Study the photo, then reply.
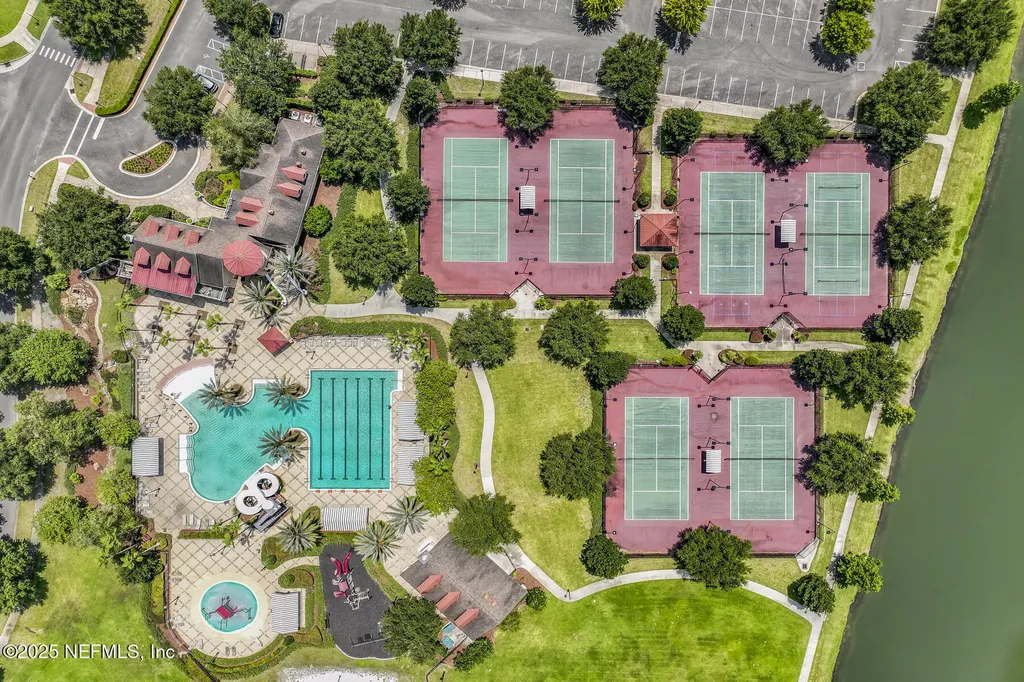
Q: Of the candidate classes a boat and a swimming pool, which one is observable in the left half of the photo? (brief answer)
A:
swimming pool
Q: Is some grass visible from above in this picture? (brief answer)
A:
Yes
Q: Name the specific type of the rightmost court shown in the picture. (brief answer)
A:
tennis court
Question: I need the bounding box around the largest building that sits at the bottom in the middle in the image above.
[401,532,527,640]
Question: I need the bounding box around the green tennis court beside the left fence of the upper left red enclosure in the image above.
[421,108,528,295]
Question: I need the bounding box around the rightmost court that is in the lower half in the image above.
[710,366,816,554]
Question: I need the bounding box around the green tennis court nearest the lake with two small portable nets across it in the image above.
[785,141,889,328]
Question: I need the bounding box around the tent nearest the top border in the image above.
[258,326,294,356]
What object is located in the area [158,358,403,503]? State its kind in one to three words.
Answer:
swimming pool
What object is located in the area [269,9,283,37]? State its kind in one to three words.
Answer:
car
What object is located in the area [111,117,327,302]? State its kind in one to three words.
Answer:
building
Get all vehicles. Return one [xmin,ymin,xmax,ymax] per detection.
[192,67,218,92]
[269,9,283,37]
